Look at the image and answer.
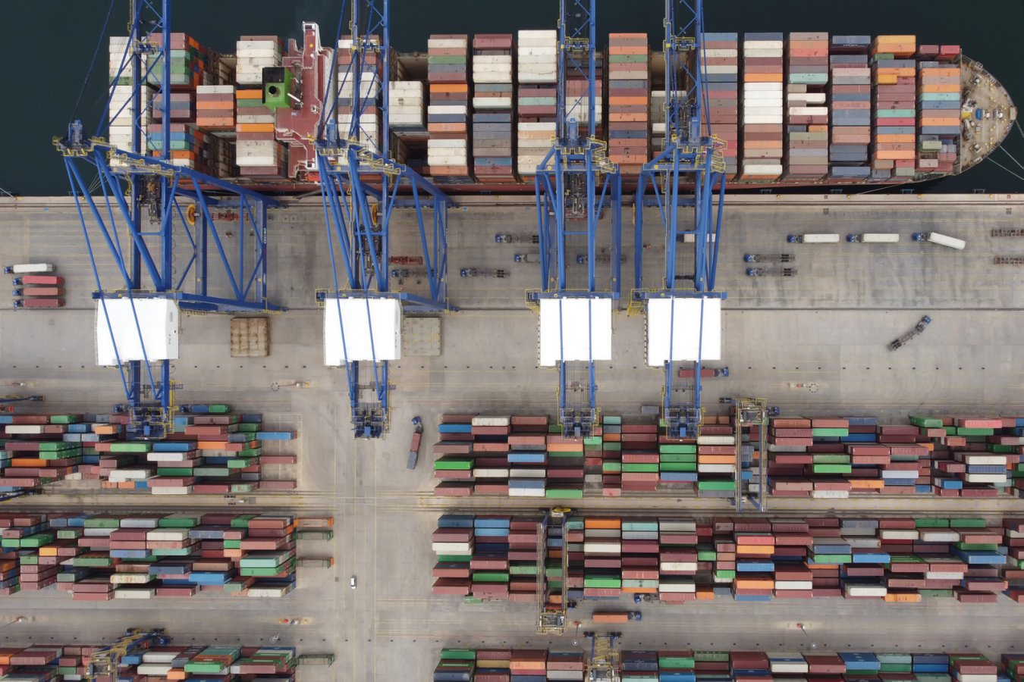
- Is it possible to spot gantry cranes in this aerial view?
Yes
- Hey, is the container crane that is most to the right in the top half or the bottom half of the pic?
bottom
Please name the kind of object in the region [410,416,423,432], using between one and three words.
vehicle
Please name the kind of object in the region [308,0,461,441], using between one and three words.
container crane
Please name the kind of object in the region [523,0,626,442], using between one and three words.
container crane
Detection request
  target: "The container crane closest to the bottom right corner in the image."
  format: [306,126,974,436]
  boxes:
[718,398,769,515]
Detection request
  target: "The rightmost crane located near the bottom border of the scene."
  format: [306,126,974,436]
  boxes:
[584,631,626,682]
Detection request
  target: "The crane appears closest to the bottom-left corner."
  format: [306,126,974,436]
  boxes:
[83,628,166,682]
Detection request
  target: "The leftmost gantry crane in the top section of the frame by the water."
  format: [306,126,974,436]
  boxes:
[57,0,286,441]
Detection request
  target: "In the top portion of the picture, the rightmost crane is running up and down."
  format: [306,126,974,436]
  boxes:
[625,0,729,442]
